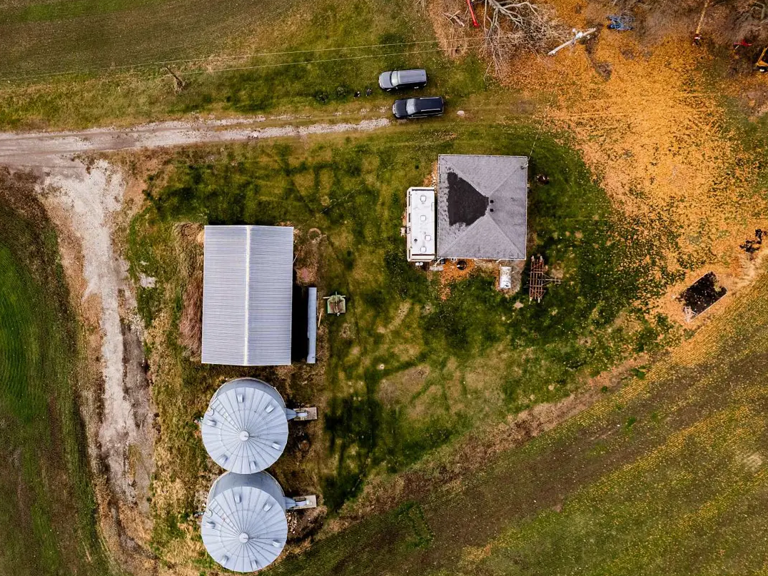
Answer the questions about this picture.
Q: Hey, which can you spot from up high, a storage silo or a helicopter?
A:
storage silo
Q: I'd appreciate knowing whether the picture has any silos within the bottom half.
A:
Yes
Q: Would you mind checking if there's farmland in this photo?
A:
Yes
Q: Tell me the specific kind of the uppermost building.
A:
house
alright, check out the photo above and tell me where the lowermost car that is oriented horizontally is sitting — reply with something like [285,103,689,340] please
[392,95,445,120]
